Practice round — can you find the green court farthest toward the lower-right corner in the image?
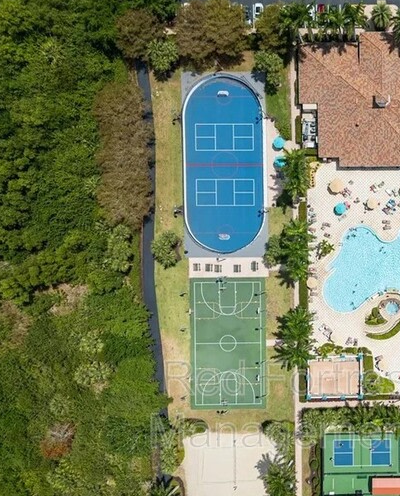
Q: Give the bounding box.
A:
[190,277,266,409]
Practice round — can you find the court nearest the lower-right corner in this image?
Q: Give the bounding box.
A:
[334,437,392,469]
